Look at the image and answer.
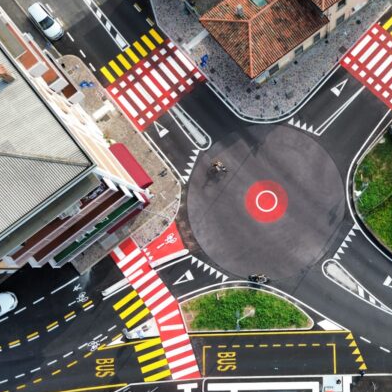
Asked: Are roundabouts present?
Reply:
Yes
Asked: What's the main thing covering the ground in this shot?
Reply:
paved ground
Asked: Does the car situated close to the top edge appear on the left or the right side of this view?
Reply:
left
